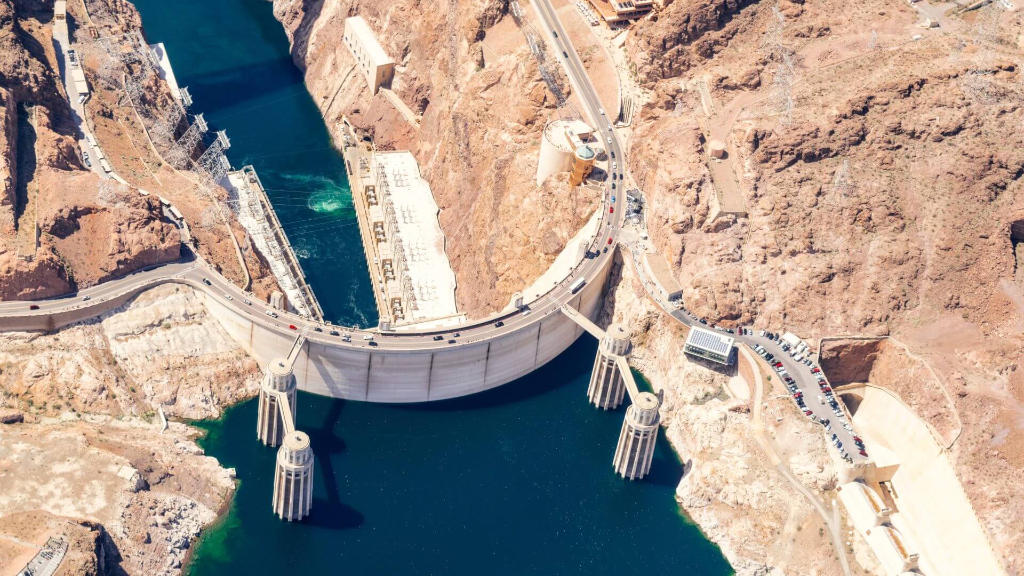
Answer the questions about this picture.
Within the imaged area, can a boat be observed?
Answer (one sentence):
No, the photo shows no boat.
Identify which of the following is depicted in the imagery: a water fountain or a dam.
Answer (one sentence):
This aerial view contains a dam.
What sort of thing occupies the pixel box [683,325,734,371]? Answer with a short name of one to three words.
building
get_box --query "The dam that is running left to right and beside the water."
[185,189,616,401]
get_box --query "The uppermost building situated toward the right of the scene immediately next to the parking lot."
[645,252,683,300]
